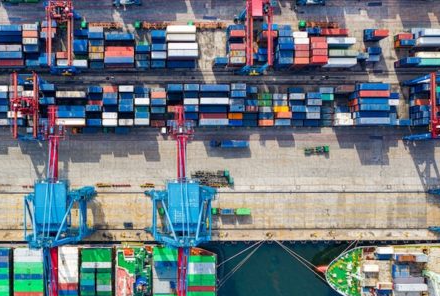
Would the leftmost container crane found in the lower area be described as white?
No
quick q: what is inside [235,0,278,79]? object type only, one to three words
container crane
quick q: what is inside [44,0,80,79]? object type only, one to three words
container crane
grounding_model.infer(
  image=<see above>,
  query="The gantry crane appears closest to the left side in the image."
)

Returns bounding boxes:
[10,70,49,145]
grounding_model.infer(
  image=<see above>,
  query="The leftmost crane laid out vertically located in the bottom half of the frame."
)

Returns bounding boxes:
[20,103,100,296]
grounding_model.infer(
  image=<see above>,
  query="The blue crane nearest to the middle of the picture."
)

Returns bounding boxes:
[140,103,221,296]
